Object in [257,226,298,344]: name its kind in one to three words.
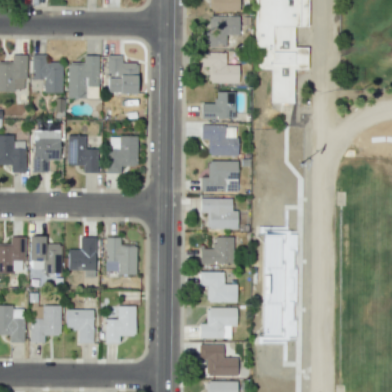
building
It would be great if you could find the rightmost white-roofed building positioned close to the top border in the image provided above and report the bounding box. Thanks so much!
[256,0,310,104]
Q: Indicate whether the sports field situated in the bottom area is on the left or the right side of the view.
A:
right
